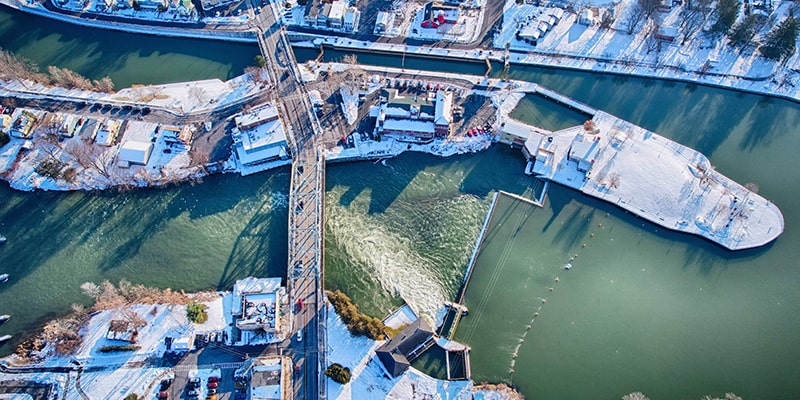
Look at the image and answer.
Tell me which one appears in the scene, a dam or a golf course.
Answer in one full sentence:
The image shows a dam.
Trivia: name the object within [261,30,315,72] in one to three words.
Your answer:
bridge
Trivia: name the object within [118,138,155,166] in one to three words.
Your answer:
building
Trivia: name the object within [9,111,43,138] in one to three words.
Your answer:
house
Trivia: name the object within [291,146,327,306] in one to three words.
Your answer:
bridge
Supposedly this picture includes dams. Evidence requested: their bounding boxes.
[445,180,551,303]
